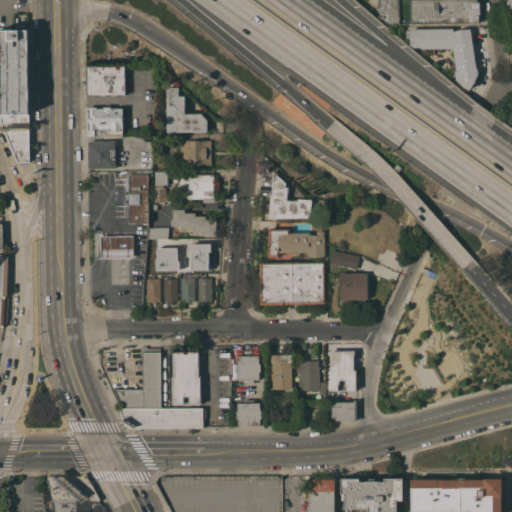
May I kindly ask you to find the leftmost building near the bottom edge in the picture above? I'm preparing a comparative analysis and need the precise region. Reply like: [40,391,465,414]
[50,478,88,512]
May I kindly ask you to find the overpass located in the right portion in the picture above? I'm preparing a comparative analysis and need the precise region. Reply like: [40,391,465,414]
[326,118,474,272]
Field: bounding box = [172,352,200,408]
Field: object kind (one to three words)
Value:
building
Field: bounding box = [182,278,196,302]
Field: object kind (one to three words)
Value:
house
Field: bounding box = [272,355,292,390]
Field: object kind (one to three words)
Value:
house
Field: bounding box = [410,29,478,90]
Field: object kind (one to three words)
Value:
building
